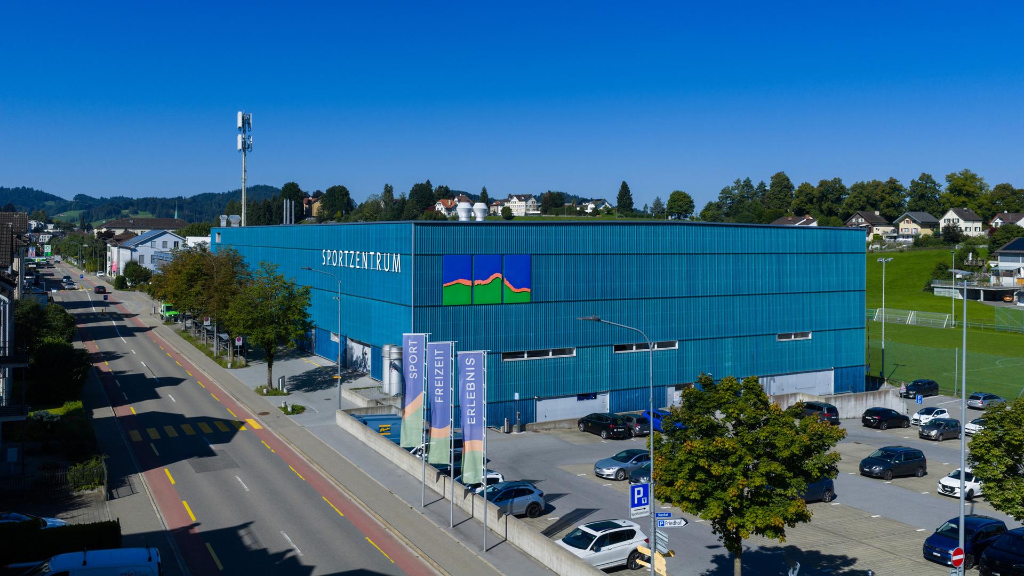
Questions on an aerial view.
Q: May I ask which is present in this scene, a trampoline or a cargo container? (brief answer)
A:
cargo container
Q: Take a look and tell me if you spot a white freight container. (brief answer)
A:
No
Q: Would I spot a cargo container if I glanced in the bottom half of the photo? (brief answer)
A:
Yes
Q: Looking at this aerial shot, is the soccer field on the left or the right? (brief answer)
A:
right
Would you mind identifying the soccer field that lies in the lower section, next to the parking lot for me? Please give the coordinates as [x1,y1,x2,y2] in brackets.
[863,324,1024,400]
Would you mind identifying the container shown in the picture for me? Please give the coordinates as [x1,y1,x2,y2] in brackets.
[348,407,399,444]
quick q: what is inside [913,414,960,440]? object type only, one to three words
car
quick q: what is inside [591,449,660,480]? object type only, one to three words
car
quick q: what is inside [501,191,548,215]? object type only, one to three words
house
